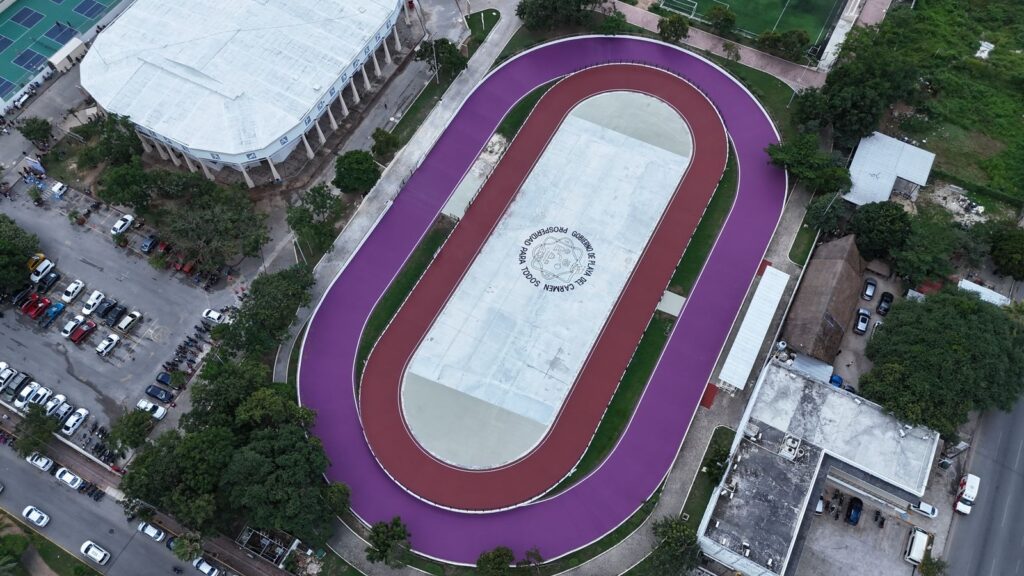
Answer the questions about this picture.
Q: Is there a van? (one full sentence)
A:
Yes, looking at the shot, I can spot a van.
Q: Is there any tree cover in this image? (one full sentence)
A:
Yes, there's tree cover in this view.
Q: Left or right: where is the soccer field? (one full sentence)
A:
The soccer field sits on the right side.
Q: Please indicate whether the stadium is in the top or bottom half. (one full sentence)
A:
The top half of the photo is where the stadium is.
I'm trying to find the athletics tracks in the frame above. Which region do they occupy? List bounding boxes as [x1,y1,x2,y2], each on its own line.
[296,32,788,568]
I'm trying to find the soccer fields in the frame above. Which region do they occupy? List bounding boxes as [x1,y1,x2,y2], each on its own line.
[660,0,840,51]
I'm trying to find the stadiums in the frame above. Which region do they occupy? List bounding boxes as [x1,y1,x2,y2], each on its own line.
[79,0,412,189]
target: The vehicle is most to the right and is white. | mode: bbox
[952,470,987,517]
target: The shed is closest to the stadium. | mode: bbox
[50,39,90,80]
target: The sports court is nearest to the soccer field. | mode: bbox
[399,89,693,469]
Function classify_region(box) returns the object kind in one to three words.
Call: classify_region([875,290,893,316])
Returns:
car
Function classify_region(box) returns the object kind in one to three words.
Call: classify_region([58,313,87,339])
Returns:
car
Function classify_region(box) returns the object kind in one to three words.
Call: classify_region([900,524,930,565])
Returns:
vehicle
